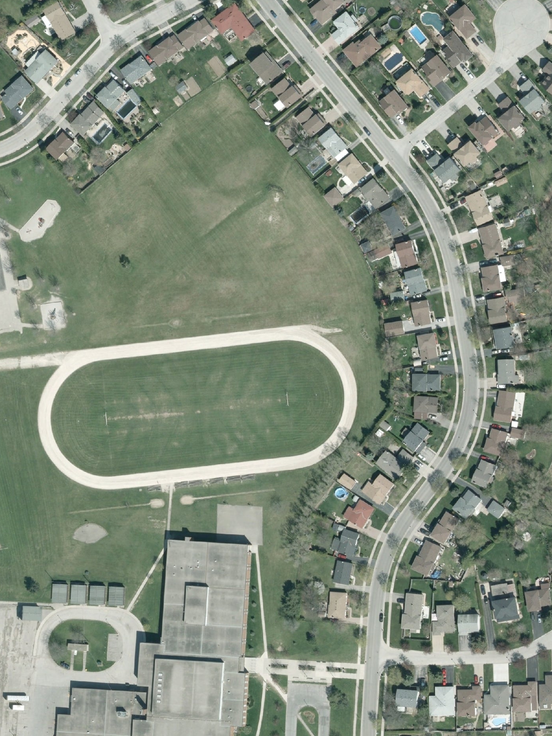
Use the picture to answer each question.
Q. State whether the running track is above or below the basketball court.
above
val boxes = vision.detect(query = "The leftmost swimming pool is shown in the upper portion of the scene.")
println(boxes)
[89,125,114,144]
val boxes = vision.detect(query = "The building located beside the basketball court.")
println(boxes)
[56,538,250,736]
